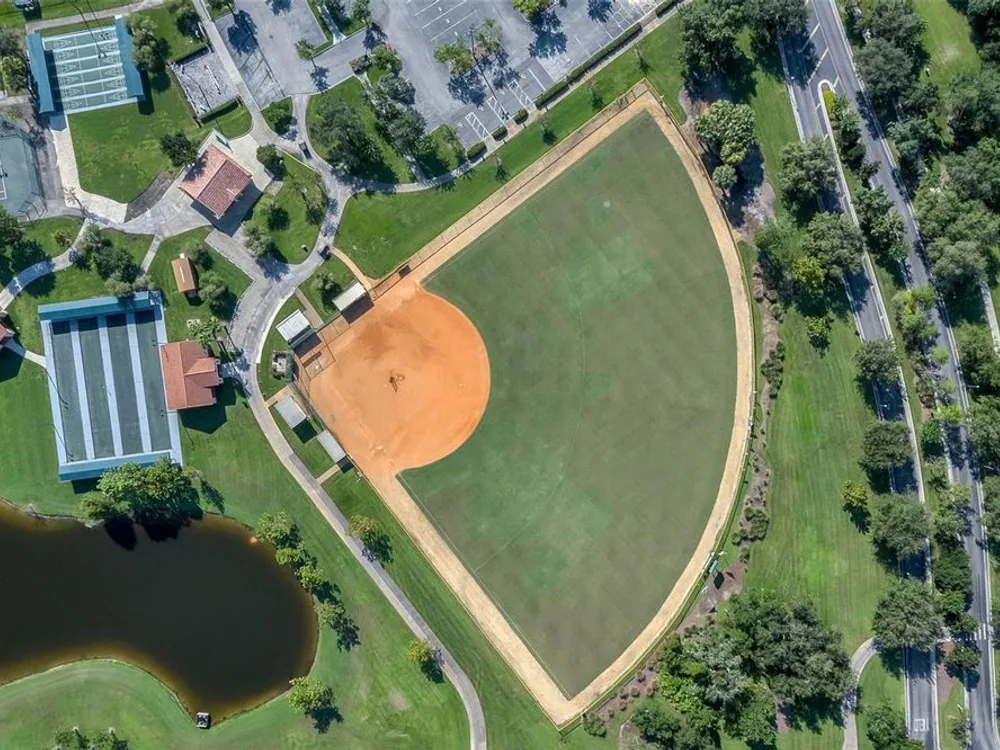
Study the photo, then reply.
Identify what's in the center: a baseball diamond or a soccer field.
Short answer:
baseball diamond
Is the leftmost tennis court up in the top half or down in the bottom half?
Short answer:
top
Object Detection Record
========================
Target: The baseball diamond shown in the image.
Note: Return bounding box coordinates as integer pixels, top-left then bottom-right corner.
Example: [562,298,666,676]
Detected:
[296,80,752,726]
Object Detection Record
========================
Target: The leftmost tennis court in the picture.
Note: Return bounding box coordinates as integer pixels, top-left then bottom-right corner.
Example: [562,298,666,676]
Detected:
[0,116,46,222]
